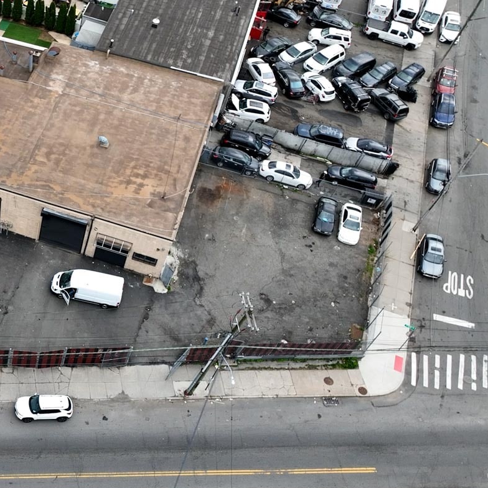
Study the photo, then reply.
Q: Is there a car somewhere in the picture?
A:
Yes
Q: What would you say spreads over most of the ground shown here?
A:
paved ground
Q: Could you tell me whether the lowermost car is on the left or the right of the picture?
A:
left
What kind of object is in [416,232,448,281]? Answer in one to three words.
car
